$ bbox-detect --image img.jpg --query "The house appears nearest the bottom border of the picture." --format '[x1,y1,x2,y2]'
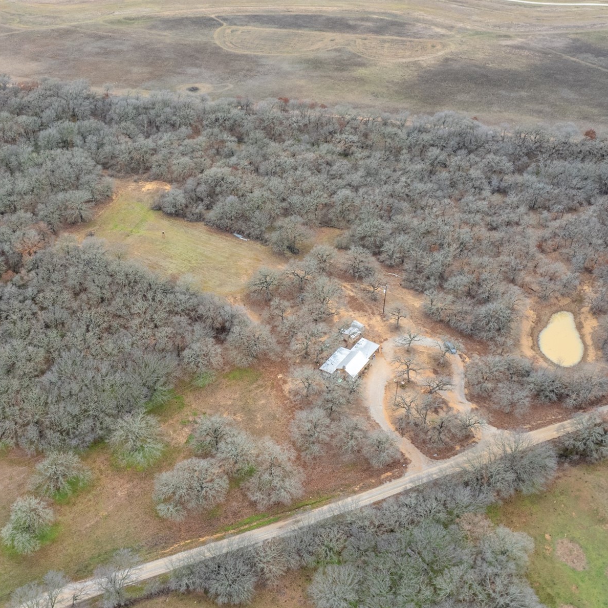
[319,338,380,385]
